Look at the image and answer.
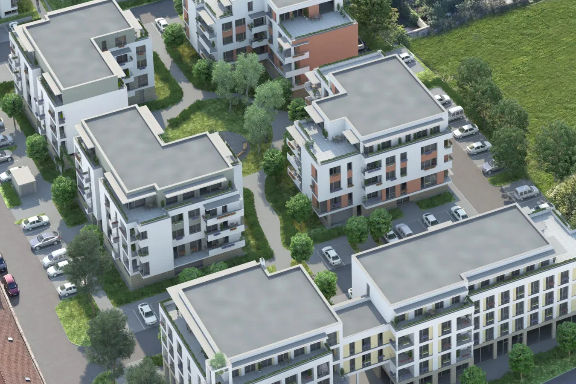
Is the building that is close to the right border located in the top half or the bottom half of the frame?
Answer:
bottom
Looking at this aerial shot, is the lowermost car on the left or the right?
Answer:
left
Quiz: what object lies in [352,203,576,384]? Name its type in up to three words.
building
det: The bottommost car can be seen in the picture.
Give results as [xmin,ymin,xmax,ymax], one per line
[138,303,158,325]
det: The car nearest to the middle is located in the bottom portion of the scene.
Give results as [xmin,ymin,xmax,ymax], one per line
[320,246,341,267]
